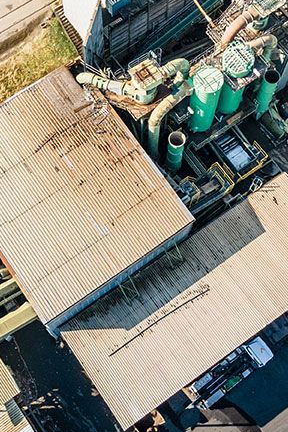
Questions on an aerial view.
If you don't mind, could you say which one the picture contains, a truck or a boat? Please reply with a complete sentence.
Visible in the photo is a truck.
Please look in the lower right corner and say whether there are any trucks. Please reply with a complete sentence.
Yes, a truck shows up in the lower right corner.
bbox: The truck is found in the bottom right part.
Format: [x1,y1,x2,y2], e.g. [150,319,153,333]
[188,333,278,414]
